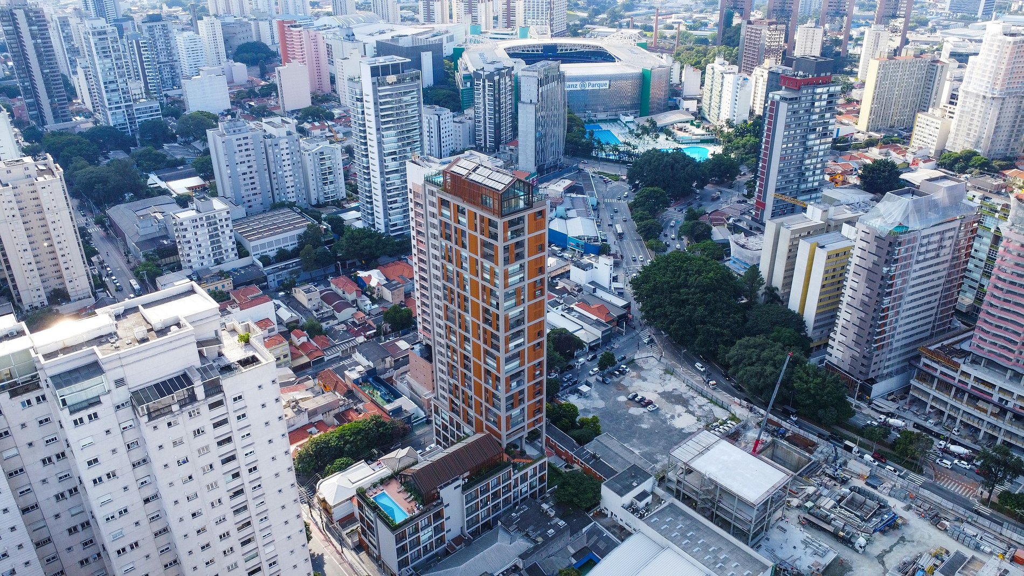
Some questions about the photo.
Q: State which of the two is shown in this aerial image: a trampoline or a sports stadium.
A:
sports stadium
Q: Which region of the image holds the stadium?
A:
top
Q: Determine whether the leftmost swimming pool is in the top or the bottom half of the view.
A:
bottom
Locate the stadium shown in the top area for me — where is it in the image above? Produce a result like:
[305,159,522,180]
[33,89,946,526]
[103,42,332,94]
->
[458,23,685,118]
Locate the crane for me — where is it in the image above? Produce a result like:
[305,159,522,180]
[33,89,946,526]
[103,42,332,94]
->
[752,350,797,459]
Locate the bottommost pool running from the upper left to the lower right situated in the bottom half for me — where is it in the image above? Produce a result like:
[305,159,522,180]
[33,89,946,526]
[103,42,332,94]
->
[371,492,410,525]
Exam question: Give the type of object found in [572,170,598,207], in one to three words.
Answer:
building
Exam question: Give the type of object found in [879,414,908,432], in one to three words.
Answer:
vehicle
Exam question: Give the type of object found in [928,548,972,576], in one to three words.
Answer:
building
